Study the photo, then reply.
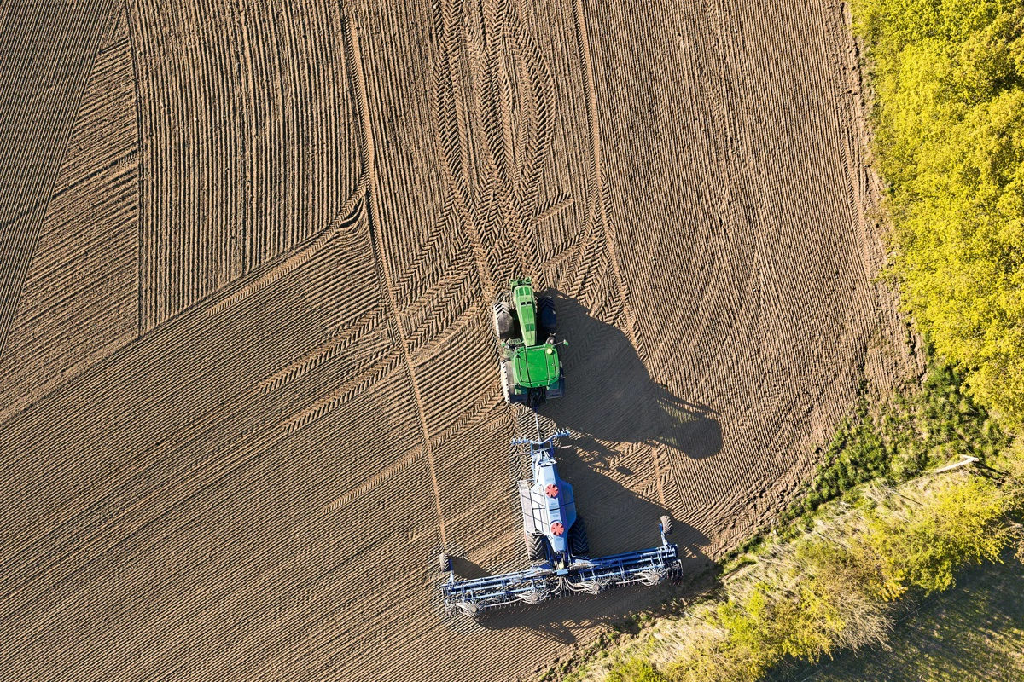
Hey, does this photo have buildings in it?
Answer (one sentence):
No, I find no building anywhere in the image.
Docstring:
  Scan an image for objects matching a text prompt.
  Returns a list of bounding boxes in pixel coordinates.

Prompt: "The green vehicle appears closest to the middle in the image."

[493,276,568,410]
